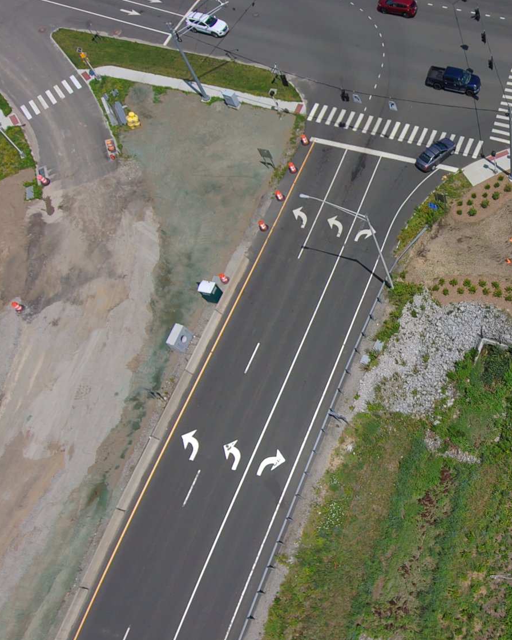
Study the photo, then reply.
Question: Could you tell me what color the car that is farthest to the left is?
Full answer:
In this view, the car that is farthest to the left is white.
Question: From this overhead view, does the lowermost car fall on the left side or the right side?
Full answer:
It is on the right.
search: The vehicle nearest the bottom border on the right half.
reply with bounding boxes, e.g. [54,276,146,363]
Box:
[415,139,456,173]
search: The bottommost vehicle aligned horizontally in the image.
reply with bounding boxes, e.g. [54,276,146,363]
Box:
[425,66,480,96]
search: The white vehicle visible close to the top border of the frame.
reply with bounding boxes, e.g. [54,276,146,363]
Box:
[185,12,228,39]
